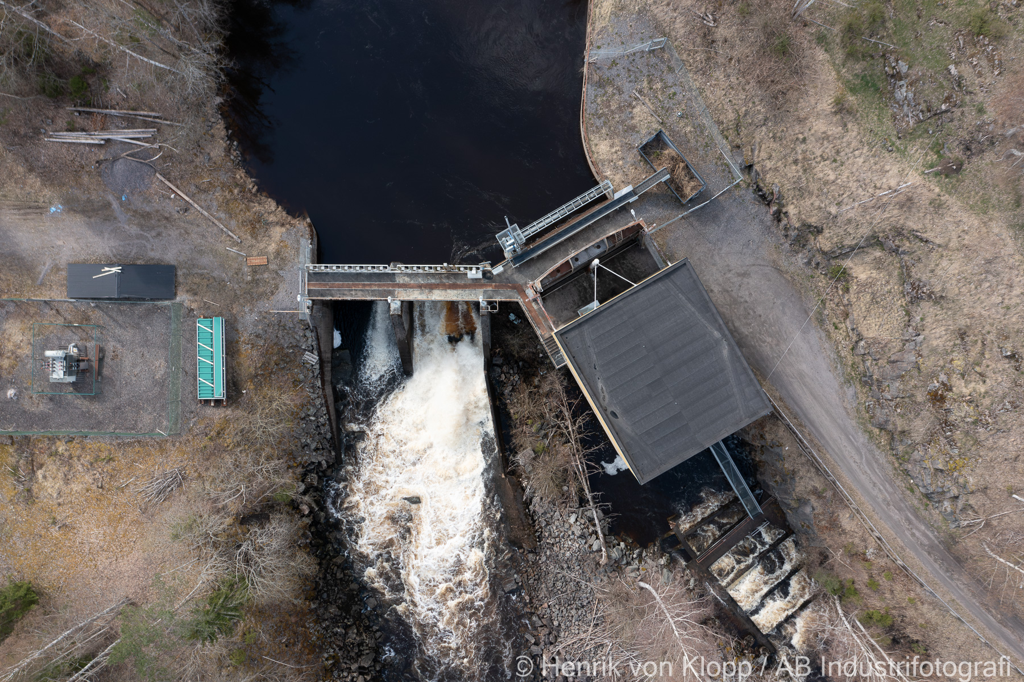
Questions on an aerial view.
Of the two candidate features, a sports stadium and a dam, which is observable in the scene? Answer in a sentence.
Visible in the photo is a dam.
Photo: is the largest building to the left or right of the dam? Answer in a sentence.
You can see the largest building positioned to the right of the dam.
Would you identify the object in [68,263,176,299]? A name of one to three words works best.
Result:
shed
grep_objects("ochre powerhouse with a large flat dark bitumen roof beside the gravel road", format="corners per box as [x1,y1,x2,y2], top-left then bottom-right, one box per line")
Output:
[552,258,773,484]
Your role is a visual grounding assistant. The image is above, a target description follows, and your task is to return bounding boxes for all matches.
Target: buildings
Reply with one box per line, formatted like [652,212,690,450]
[552,258,773,484]
[68,263,176,299]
